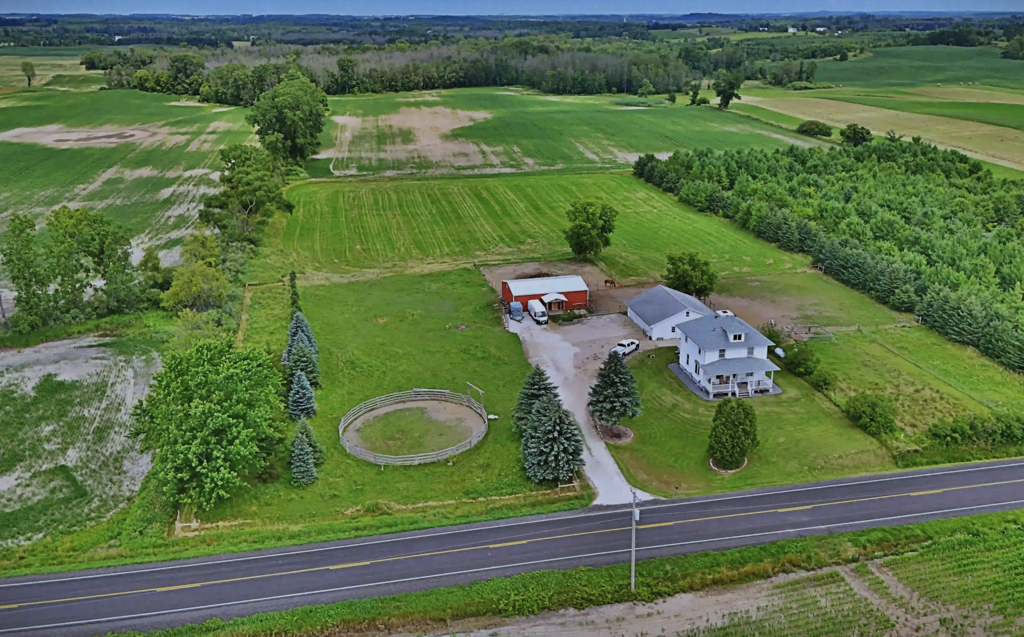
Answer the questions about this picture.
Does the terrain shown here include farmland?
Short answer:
Yes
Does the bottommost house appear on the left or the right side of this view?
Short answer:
right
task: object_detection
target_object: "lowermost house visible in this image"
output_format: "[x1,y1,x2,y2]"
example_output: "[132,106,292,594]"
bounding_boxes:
[675,313,783,400]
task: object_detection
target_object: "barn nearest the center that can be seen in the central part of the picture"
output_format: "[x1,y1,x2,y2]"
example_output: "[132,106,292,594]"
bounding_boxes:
[505,276,590,315]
